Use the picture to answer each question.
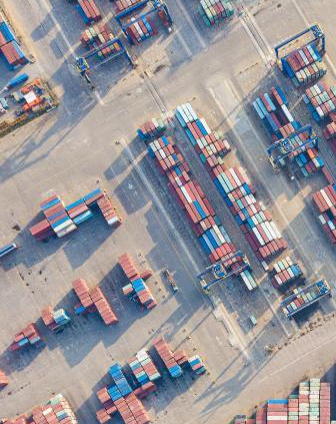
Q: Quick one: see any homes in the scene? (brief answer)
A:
No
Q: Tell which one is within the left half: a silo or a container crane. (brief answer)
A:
container crane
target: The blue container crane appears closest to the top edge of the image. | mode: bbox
[115,0,168,47]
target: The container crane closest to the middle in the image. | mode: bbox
[201,256,250,295]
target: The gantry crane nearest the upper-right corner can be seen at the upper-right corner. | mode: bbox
[277,25,323,76]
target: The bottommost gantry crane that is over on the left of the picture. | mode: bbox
[81,38,137,87]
